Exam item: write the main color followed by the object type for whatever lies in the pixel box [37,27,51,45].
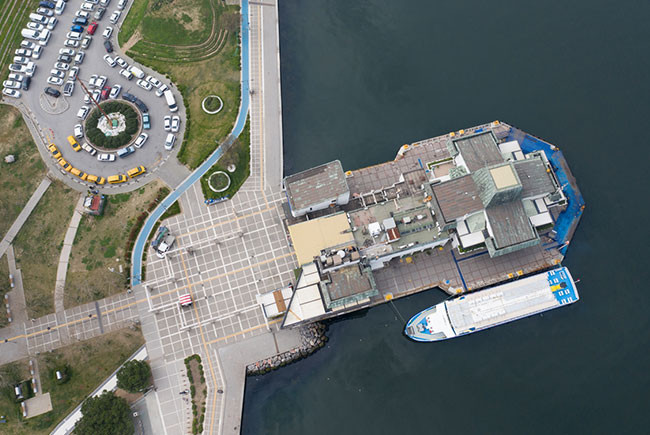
white vehicle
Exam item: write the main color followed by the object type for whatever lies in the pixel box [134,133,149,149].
white car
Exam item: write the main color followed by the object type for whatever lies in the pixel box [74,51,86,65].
white vehicle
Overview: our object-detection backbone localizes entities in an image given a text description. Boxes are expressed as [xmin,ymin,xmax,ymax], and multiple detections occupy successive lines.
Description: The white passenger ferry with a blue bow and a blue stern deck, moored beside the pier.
[404,264,582,343]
